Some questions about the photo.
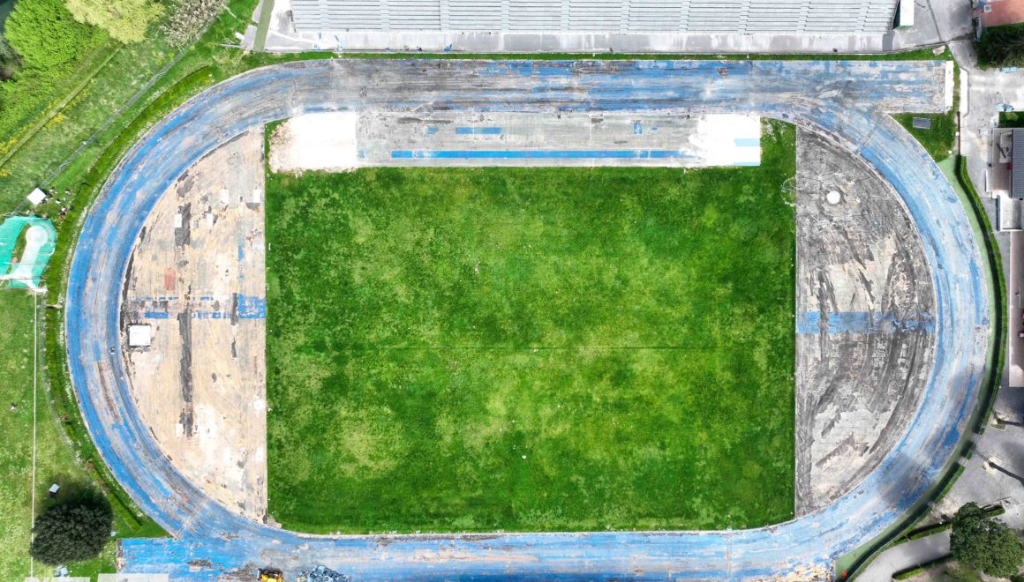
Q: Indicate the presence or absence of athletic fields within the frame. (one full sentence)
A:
Yes, an athletic field appears in the view.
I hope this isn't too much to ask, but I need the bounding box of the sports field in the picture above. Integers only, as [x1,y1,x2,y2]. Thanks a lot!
[266,118,795,532]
